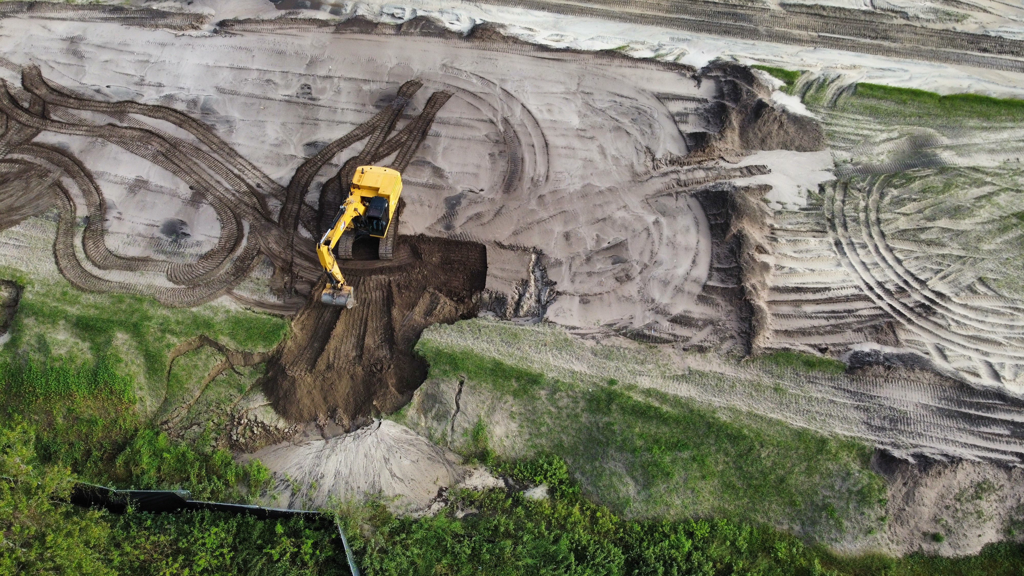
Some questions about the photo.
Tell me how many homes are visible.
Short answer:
none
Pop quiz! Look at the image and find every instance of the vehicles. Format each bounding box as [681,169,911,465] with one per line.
[315,165,403,312]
